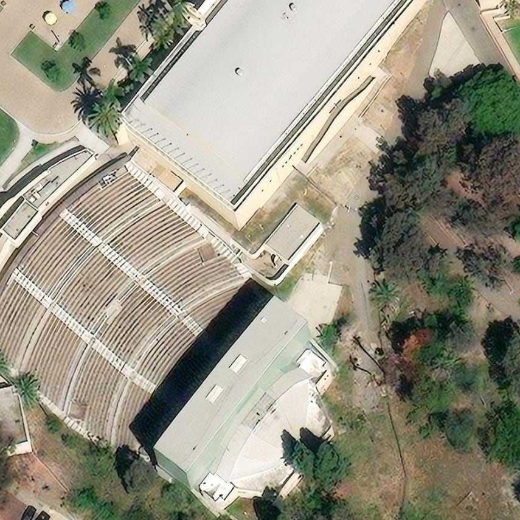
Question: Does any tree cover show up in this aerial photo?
Yes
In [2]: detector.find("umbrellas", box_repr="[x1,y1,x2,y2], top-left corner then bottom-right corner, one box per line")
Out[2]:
[44,11,58,24]
[63,0,75,13]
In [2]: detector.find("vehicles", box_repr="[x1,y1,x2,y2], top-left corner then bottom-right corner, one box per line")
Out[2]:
[22,503,36,520]
[36,507,51,520]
